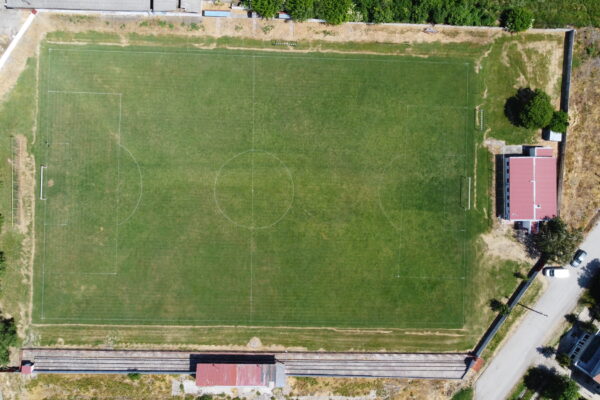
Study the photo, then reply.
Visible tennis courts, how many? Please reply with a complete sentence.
There are no tennis courts in the image.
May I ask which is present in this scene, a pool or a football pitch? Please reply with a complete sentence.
There is a football pitch in the scene.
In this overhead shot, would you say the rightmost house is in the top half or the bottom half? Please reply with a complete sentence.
It is in the bottom half that the rightmost house appears.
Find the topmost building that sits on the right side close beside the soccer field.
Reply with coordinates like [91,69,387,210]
[500,148,557,234]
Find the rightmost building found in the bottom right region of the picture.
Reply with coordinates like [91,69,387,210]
[568,313,600,380]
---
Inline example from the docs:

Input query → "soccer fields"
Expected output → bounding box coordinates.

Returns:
[34,46,474,331]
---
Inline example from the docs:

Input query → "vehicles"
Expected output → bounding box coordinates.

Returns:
[546,268,571,278]
[569,249,586,267]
